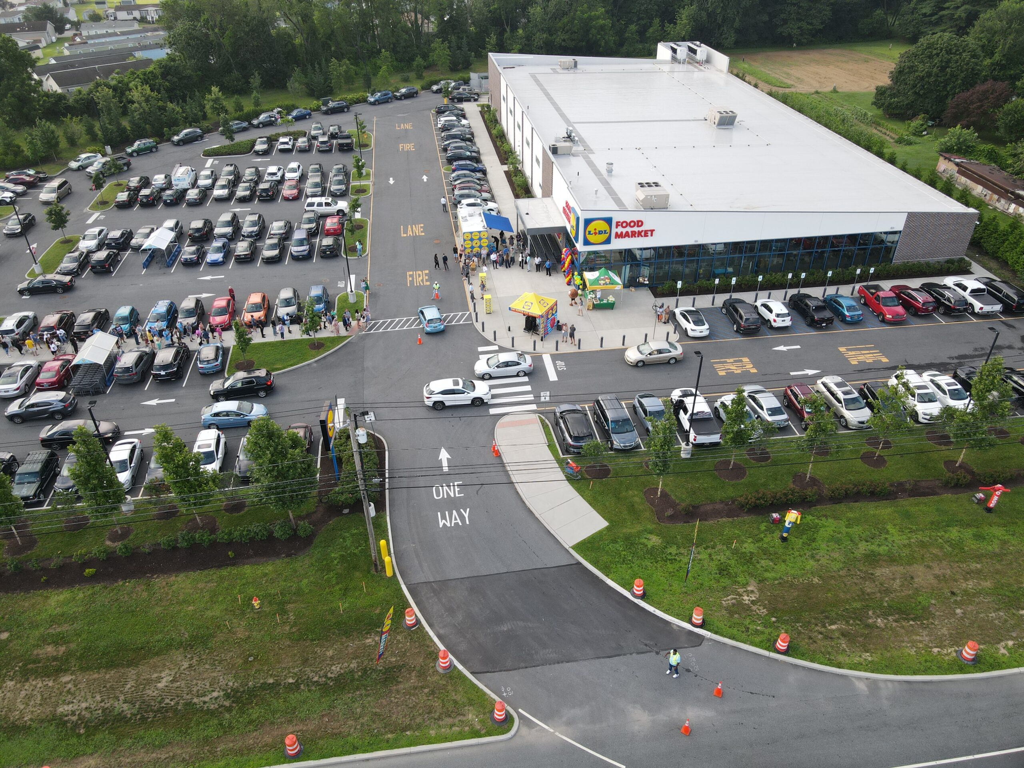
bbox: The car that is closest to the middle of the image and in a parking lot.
[473,351,533,380]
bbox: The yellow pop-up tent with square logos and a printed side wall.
[509,291,557,337]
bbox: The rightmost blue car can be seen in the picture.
[823,297,866,325]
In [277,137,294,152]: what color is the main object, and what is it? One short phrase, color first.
white car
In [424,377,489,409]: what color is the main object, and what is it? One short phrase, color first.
white car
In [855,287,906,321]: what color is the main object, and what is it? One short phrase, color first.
red truck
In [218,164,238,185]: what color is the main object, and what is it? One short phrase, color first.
gray car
